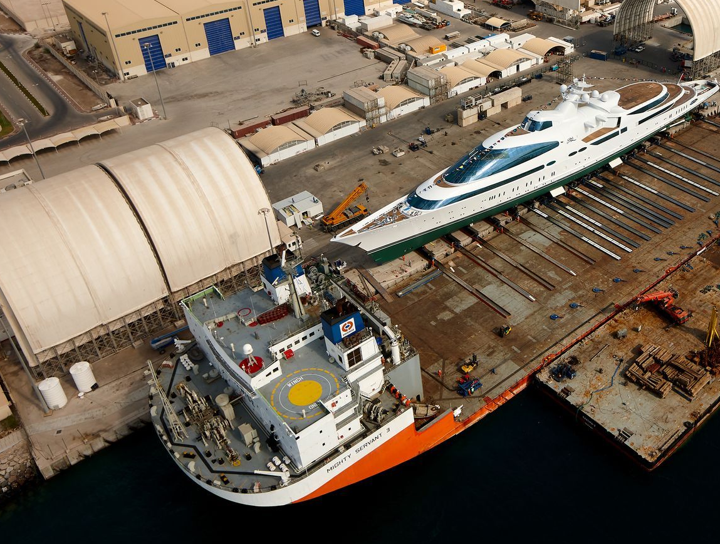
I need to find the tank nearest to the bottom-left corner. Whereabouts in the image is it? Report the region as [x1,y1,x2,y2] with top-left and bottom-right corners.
[28,374,63,410]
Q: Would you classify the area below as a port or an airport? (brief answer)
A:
port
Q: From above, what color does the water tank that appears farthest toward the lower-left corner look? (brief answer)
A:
white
